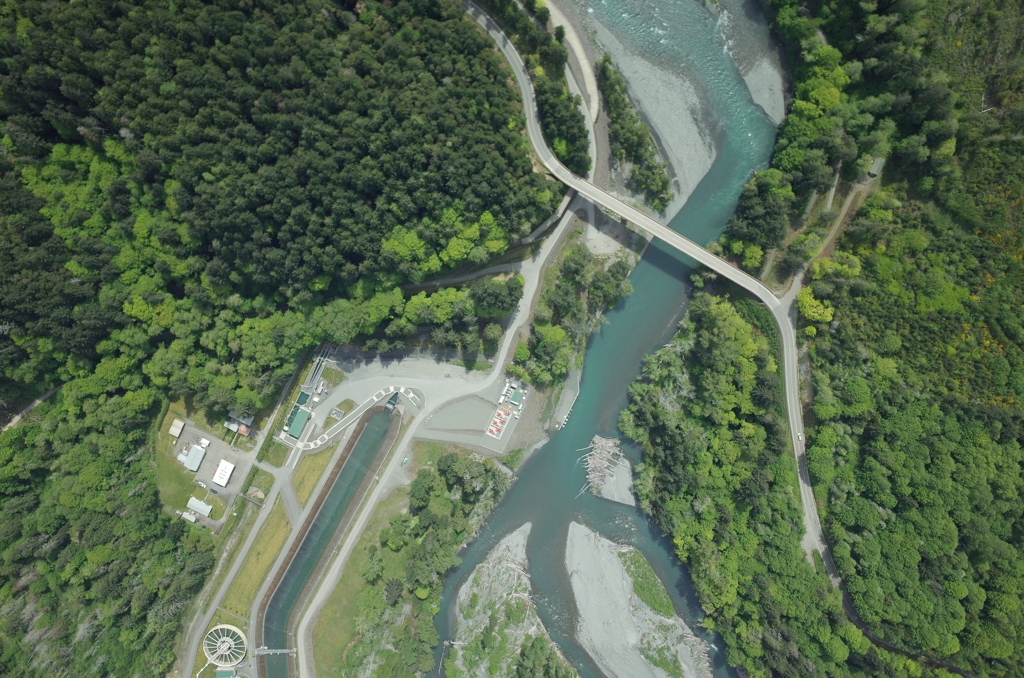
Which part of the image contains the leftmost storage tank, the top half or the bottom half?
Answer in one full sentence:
It is in the bottom half that the leftmost storage tank appears.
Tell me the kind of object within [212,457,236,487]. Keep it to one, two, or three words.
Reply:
building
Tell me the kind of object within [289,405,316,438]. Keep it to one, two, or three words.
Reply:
building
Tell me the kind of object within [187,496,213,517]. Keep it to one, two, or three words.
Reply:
house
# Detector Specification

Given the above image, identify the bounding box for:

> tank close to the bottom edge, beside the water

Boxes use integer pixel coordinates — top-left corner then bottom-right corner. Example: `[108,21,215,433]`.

[196,623,249,678]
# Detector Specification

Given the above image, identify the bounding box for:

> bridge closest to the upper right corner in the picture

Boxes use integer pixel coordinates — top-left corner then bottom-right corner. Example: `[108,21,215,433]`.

[542,153,785,315]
